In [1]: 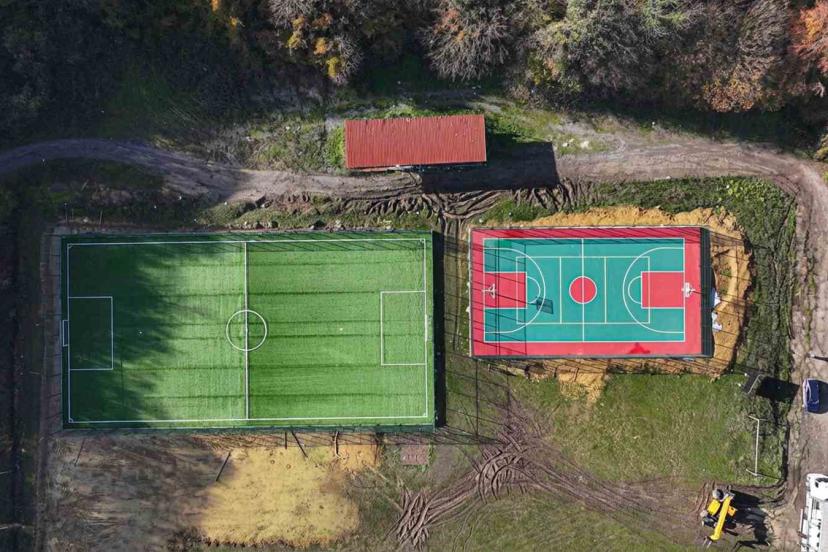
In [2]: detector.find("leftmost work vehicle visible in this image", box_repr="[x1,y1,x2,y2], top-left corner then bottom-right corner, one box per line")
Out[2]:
[693,486,737,545]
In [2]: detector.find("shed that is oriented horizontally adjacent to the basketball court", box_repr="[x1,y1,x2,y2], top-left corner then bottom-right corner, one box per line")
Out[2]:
[344,114,488,171]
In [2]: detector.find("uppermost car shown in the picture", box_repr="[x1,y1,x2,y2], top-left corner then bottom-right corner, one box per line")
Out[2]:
[803,381,822,411]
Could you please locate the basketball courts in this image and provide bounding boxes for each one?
[471,227,703,357]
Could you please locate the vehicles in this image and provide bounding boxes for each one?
[803,381,822,411]
[802,474,828,552]
[693,486,737,545]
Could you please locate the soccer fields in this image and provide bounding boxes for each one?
[61,231,433,428]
